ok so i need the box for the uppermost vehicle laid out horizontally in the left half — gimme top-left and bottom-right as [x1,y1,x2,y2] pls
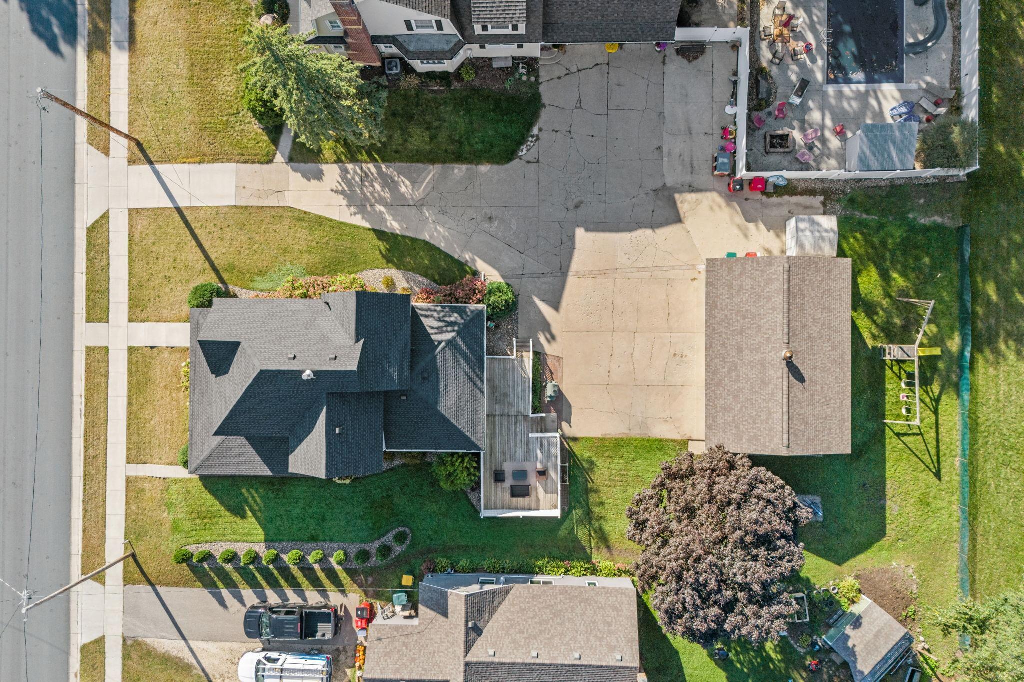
[244,602,345,644]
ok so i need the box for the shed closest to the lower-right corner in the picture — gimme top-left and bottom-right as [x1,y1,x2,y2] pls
[812,588,913,682]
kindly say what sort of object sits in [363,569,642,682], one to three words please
house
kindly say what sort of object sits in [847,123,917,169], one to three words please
shed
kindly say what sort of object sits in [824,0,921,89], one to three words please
swimming pool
